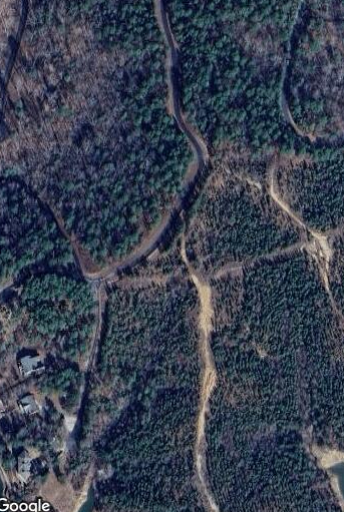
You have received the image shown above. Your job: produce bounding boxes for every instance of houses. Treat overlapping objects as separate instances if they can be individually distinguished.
[18,395,38,416]
[14,456,34,485]
[17,353,43,379]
